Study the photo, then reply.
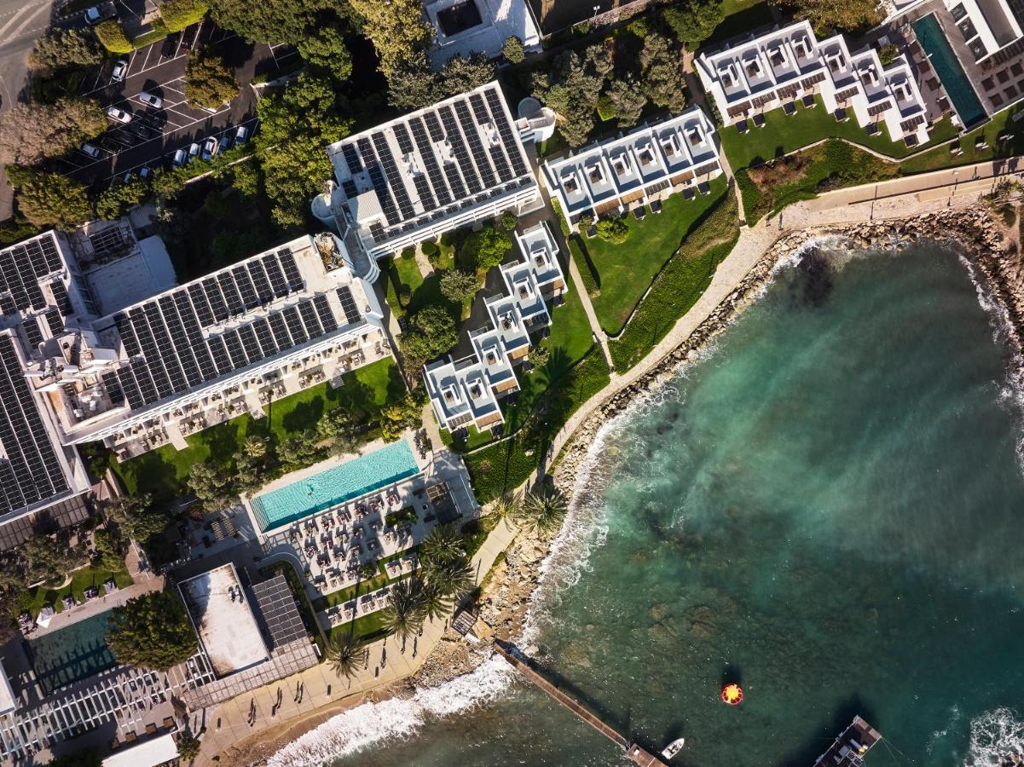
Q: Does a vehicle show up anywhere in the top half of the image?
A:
Yes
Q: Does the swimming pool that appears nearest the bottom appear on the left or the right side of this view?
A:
left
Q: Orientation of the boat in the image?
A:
on a diagonal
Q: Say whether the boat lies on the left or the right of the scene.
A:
right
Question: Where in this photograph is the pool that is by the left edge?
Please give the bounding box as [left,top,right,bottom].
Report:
[24,601,147,699]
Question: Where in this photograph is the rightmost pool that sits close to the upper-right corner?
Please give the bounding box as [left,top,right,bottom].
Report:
[909,9,992,132]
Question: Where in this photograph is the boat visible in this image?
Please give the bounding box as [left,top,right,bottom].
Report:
[661,738,685,761]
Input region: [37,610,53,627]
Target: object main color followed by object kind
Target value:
white umbrella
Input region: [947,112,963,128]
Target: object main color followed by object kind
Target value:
white umbrella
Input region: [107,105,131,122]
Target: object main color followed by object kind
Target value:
white car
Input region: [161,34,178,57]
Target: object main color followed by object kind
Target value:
black car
